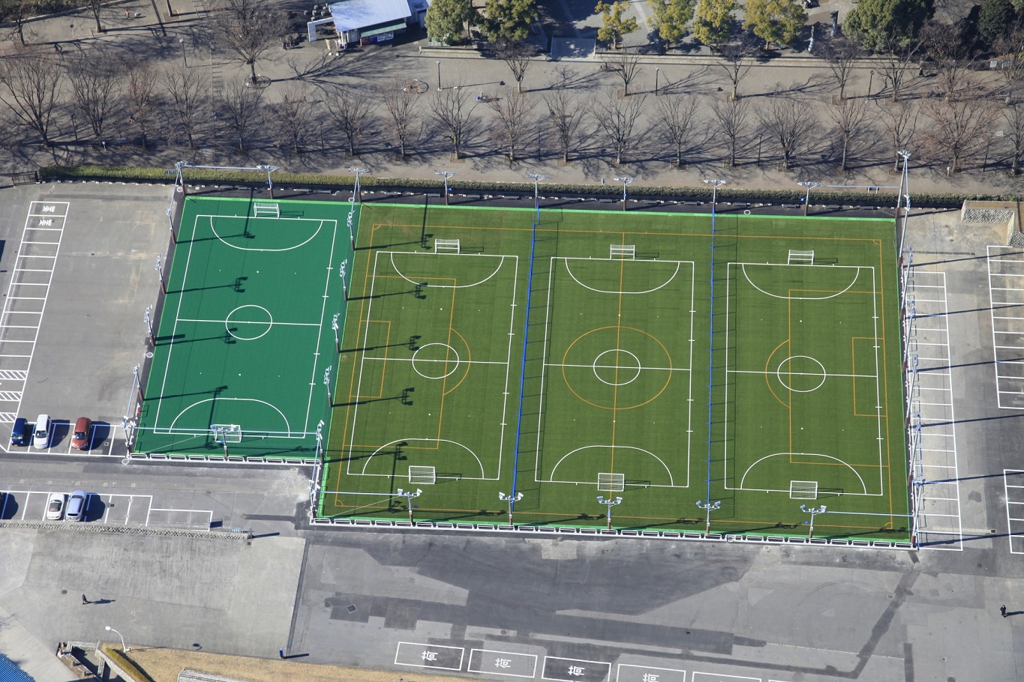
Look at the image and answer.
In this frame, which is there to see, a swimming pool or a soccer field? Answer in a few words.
soccer field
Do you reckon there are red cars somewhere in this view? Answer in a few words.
Yes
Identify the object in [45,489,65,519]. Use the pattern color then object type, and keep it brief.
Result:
white car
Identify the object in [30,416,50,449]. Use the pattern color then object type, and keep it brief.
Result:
white car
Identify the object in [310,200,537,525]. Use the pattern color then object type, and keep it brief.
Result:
green sports court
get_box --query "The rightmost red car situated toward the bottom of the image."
[69,419,89,450]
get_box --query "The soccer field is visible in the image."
[333,224,891,528]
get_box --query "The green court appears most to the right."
[709,211,910,541]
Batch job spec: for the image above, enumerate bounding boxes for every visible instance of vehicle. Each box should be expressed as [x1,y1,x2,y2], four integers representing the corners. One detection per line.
[66,486,87,518]
[30,416,50,449]
[11,417,30,445]
[69,419,89,450]
[45,489,65,519]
